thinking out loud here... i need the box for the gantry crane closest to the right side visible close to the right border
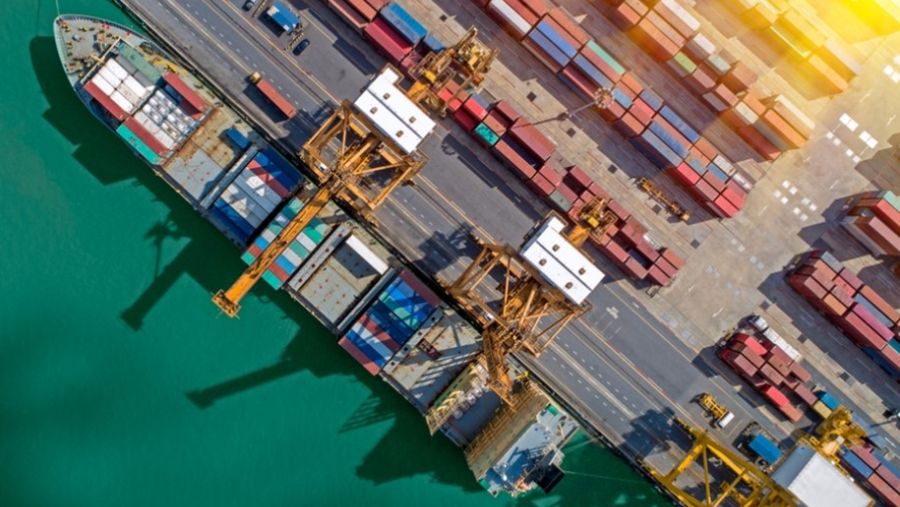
[636,401,876,507]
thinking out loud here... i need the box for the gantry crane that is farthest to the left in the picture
[213,21,502,322]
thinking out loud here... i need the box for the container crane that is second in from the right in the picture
[433,190,626,421]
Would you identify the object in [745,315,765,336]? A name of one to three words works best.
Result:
vehicle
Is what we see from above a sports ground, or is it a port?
port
